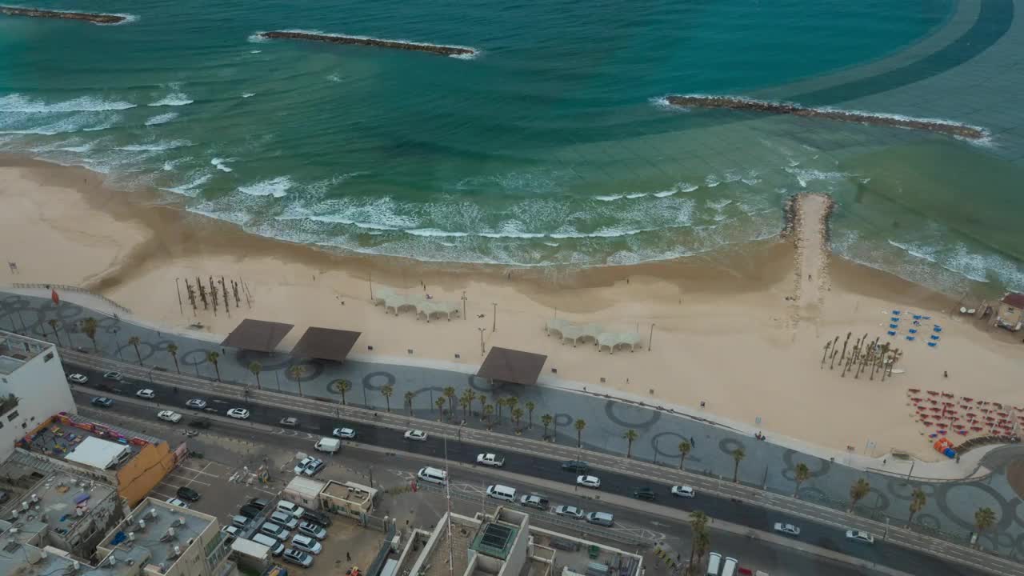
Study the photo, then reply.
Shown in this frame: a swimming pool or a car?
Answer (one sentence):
Looking from above, you can make out a car.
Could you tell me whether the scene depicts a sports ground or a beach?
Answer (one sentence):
It's a beach.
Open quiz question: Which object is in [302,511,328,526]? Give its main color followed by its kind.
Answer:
black car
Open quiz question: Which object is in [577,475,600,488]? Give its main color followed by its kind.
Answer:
white vehicle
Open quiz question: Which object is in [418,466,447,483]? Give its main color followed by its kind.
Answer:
white vehicle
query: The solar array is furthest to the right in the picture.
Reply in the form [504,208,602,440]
[482,526,514,553]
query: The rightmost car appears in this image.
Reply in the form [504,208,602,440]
[847,530,874,545]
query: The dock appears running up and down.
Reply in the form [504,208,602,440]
[779,190,838,349]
